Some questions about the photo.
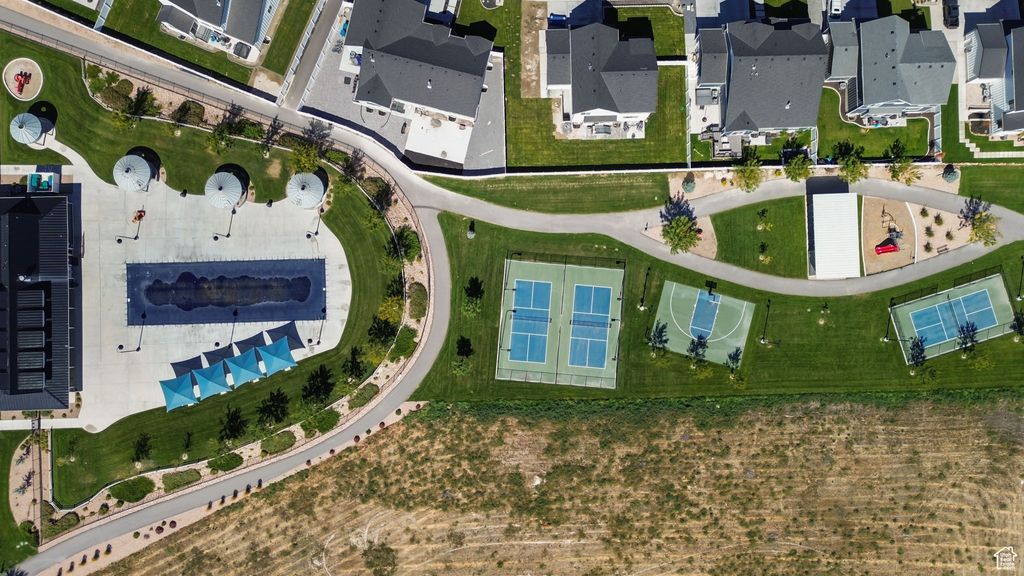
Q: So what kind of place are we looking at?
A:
residential area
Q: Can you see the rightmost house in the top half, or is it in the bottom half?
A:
top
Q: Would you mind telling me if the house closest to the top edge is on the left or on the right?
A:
left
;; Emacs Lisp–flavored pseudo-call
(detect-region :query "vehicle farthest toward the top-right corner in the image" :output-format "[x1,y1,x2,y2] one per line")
[943,0,963,27]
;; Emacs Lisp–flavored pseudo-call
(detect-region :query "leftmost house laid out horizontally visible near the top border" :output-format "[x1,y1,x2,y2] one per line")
[158,0,279,54]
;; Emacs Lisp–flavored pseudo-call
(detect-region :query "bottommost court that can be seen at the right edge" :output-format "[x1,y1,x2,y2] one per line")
[889,273,1018,365]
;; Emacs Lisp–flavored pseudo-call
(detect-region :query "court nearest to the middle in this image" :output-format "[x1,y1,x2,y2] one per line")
[495,259,625,389]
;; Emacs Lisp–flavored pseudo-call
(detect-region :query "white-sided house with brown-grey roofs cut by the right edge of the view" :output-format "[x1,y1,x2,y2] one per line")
[960,23,1024,131]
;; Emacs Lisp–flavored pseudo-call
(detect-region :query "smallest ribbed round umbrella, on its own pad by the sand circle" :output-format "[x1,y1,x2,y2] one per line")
[10,112,47,143]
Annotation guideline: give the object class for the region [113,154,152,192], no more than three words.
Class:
umbrella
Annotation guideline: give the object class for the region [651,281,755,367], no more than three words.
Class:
basketball court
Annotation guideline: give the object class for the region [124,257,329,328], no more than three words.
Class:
swimming pool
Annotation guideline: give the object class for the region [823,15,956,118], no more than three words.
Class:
house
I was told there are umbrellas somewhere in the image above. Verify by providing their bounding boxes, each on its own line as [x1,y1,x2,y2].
[113,154,152,192]
[205,171,243,209]
[286,171,324,209]
[10,112,47,143]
